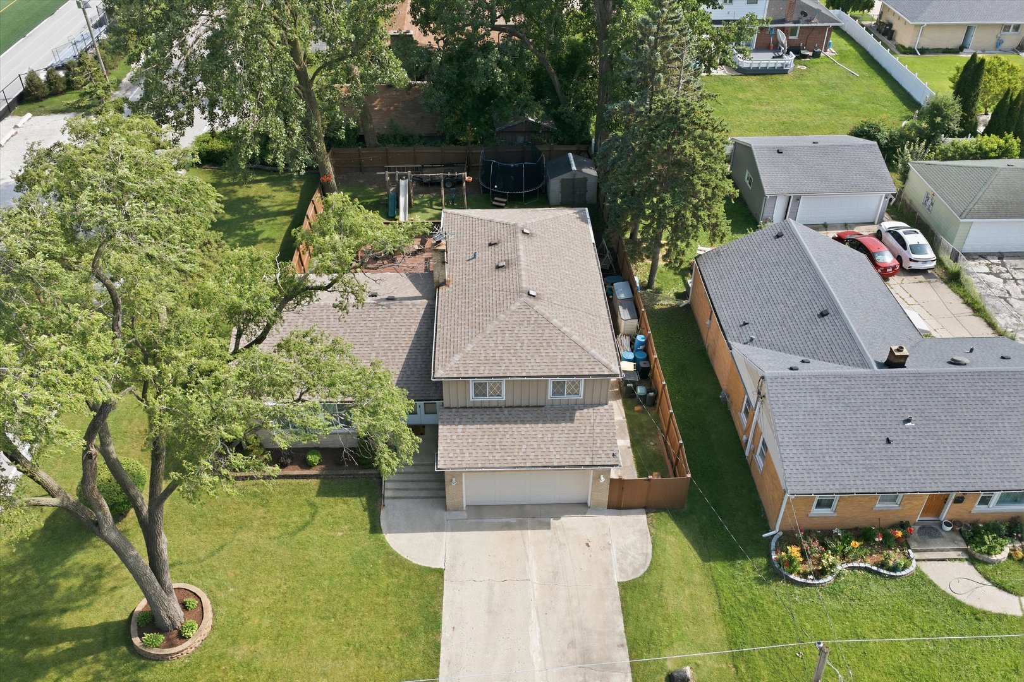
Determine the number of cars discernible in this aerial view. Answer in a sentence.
Altogether the scene contains 2 cars.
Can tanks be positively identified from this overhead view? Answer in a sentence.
No, no tank is visible in the scene.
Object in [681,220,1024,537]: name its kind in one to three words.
house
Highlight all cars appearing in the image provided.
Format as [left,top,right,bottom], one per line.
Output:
[840,228,910,281]
[875,218,936,269]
